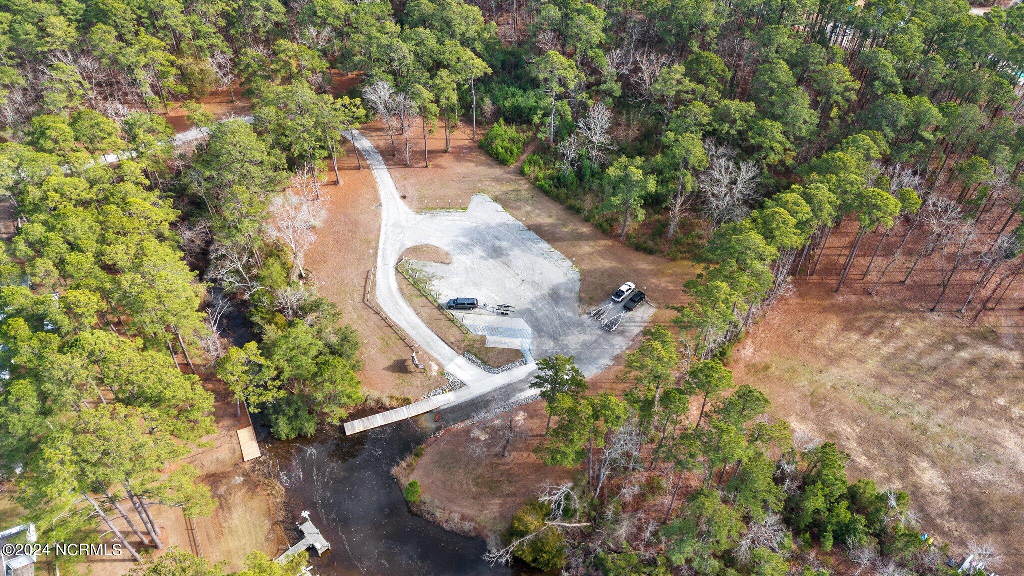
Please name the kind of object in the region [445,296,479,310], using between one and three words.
vehicle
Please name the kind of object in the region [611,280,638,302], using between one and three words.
truck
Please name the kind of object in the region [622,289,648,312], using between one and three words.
truck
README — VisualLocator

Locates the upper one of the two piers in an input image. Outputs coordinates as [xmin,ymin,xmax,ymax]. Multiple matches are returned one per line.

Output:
[345,397,440,437]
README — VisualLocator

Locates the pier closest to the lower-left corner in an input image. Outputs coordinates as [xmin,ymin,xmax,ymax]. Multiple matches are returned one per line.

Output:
[263,519,331,573]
